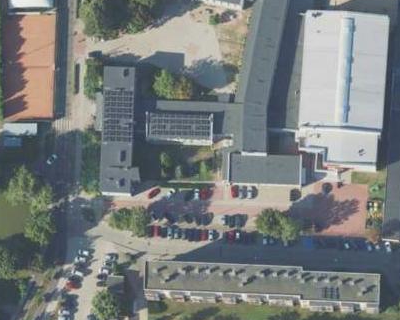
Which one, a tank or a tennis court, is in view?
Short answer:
tennis court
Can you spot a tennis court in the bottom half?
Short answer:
No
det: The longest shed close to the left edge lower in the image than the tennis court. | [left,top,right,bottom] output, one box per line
[2,123,37,137]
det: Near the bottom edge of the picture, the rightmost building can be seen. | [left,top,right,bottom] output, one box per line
[144,261,380,312]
